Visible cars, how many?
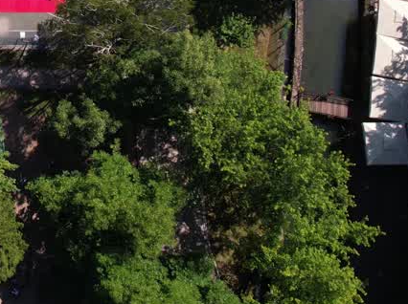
none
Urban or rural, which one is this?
rural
